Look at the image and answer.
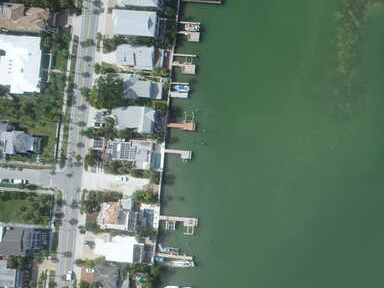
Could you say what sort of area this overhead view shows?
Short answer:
residential area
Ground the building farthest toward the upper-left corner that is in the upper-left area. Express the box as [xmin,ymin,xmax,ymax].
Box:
[0,2,54,31]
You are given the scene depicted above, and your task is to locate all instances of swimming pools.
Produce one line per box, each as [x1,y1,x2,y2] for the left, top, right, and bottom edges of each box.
[143,208,154,222]
[155,152,161,168]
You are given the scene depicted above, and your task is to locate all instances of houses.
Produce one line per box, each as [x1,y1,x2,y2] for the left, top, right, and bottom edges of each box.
[124,80,166,99]
[111,9,161,39]
[110,142,157,169]
[0,260,23,288]
[101,200,135,225]
[95,235,142,262]
[0,121,44,155]
[0,226,39,252]
[115,45,158,71]
[117,0,163,9]
[0,35,49,94]
[112,106,158,134]
[0,2,54,31]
